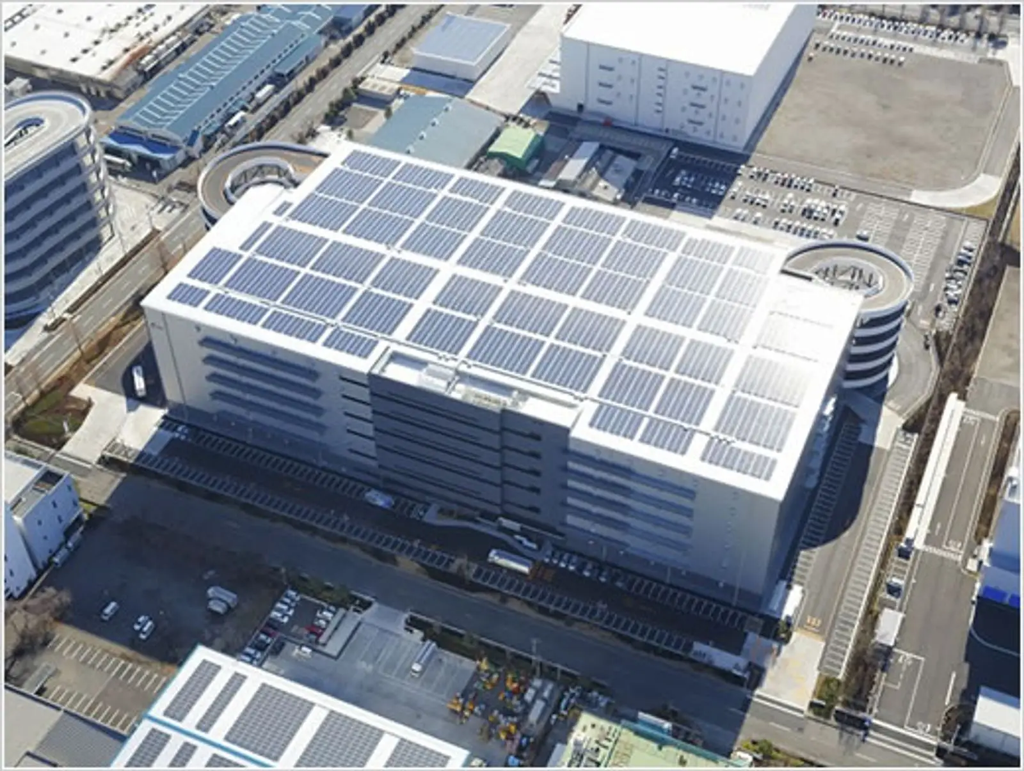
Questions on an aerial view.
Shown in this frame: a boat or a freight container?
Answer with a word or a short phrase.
freight container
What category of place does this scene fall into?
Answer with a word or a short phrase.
industrial area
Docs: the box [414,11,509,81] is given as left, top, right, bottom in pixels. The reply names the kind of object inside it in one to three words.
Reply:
building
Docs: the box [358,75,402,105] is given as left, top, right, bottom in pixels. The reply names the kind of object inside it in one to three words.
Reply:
building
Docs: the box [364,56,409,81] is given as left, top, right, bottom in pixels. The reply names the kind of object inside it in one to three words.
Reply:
shed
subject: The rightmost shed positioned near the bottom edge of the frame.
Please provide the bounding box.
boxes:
[965,686,1024,758]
